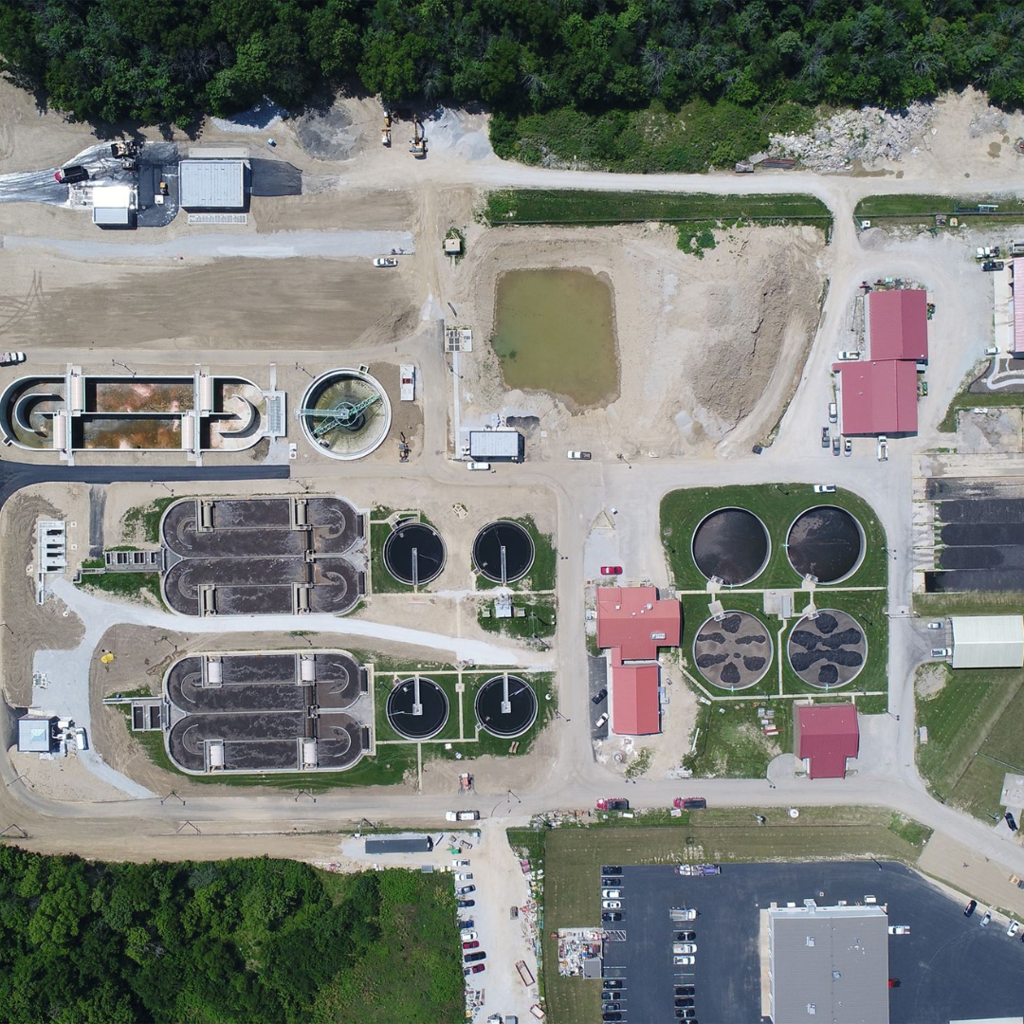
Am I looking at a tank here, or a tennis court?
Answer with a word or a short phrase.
tank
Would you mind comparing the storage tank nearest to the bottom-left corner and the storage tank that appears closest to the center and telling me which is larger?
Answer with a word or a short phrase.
the storage tank nearest to the bottom-left corner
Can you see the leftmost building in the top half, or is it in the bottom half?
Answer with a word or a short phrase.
bottom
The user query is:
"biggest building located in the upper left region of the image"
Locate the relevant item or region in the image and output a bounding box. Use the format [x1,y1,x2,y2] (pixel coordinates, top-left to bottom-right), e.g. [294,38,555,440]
[180,161,249,212]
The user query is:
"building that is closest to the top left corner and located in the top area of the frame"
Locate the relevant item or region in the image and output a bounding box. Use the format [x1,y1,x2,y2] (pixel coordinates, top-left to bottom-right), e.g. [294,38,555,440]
[89,186,138,228]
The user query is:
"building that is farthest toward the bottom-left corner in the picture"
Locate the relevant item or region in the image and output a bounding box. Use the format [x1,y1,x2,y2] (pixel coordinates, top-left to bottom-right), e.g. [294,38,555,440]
[18,717,57,752]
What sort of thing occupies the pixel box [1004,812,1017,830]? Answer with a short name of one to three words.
vehicle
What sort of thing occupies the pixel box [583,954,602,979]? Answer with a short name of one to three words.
shed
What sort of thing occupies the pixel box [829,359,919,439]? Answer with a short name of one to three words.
building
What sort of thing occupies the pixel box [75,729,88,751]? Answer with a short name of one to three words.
vehicle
